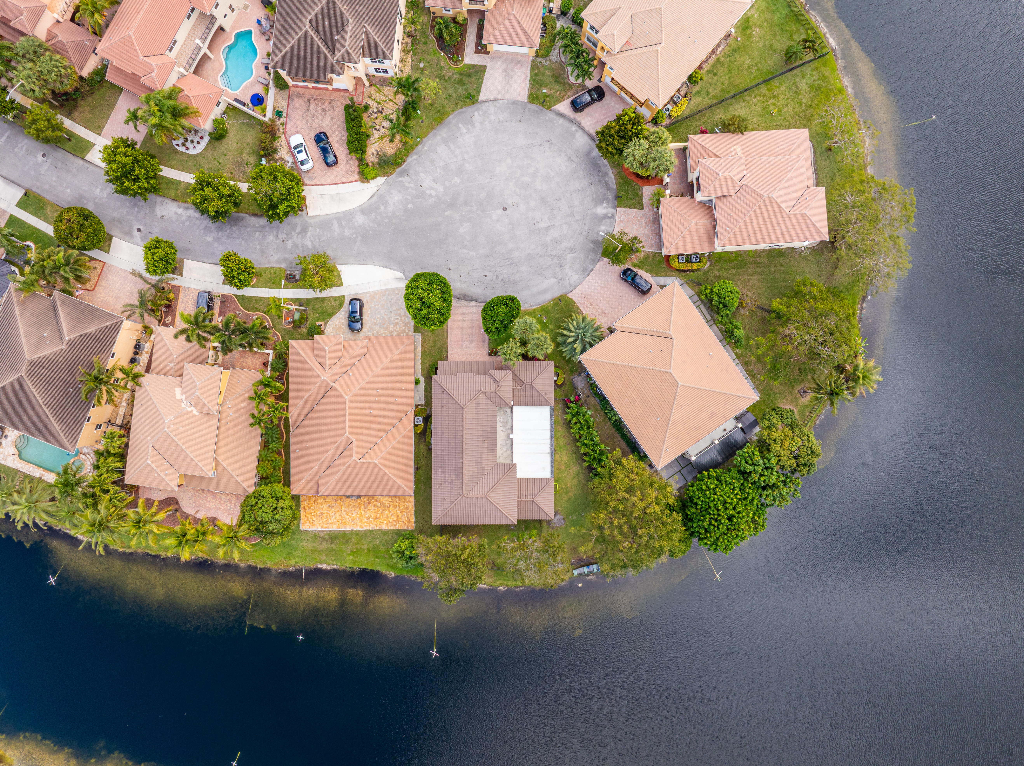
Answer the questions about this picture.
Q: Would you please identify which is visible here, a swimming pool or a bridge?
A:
swimming pool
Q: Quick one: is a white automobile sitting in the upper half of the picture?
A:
Yes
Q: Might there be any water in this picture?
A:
Yes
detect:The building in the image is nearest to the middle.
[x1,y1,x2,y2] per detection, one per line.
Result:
[432,360,555,526]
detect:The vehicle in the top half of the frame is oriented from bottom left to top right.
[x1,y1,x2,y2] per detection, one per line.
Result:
[570,84,605,114]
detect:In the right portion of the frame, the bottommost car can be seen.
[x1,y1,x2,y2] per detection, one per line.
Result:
[620,268,653,295]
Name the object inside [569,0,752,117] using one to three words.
house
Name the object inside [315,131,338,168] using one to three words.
car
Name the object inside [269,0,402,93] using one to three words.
house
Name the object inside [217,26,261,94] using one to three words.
swimming pool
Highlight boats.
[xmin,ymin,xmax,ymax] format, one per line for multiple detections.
[573,564,600,577]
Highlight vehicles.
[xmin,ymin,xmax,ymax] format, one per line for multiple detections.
[347,298,364,332]
[315,131,338,168]
[291,134,314,172]
[196,289,216,324]
[570,84,605,114]
[620,268,653,295]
